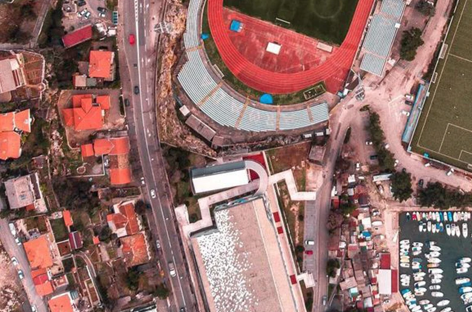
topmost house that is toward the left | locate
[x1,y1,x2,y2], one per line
[63,26,96,45]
